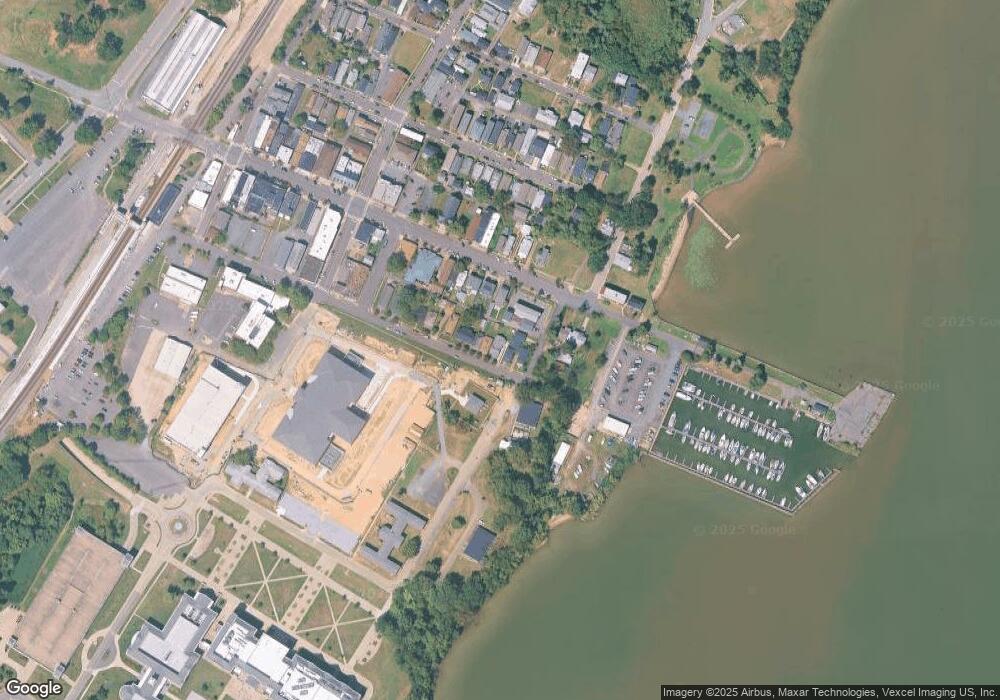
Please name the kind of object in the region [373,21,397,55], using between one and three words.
house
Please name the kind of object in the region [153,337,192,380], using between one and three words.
shed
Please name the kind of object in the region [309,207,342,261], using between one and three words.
building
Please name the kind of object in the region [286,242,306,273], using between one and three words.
house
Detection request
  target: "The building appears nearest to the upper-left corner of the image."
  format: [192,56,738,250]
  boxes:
[140,9,226,114]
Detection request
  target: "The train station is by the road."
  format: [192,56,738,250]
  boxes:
[0,151,193,424]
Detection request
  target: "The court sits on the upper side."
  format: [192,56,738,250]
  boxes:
[694,108,719,139]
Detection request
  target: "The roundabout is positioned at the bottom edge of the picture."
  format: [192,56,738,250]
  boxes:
[82,624,126,674]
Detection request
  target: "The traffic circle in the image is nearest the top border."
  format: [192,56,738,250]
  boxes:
[157,505,199,547]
